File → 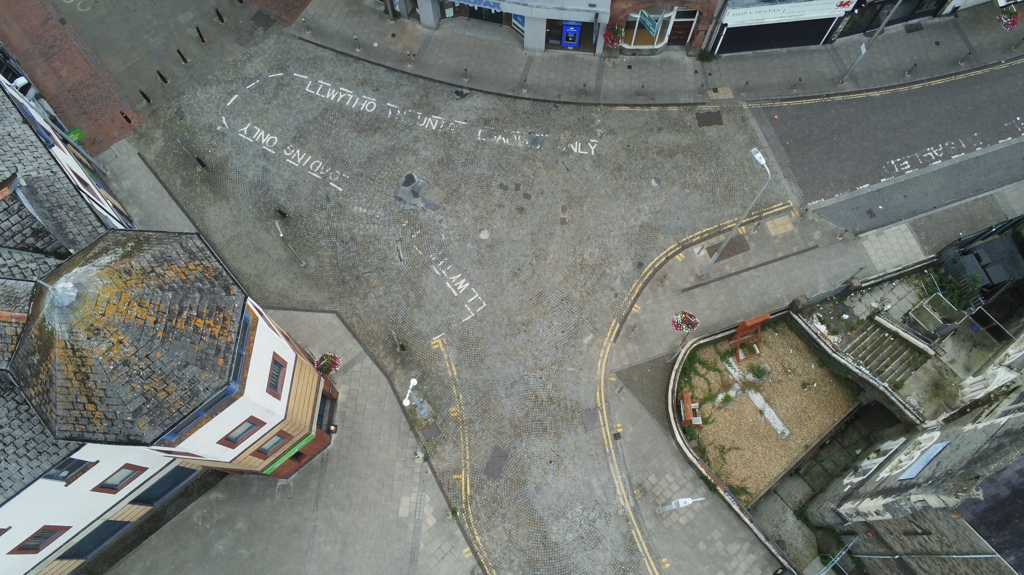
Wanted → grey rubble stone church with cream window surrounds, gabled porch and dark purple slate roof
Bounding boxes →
[803,307,1024,575]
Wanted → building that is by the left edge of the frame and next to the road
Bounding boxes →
[0,50,339,575]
